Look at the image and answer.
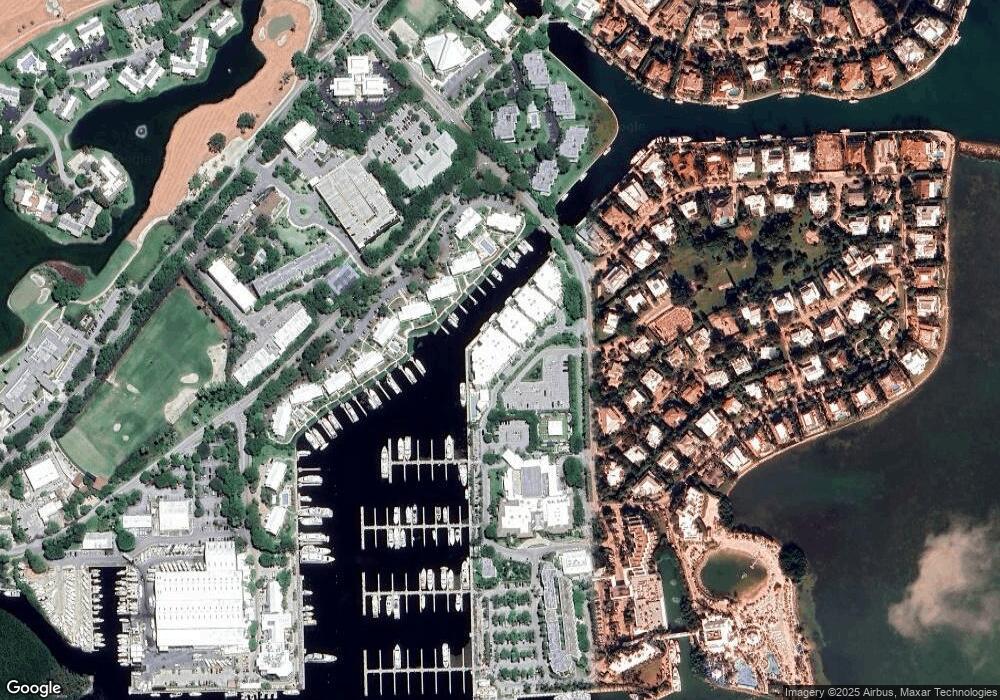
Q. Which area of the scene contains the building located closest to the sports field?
top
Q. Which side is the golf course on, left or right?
left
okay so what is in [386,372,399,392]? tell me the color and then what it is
white boat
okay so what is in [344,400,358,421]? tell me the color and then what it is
white boat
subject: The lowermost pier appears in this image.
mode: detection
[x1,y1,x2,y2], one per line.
[364,648,475,696]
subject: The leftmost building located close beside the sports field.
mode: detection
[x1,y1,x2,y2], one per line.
[386,17,419,49]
